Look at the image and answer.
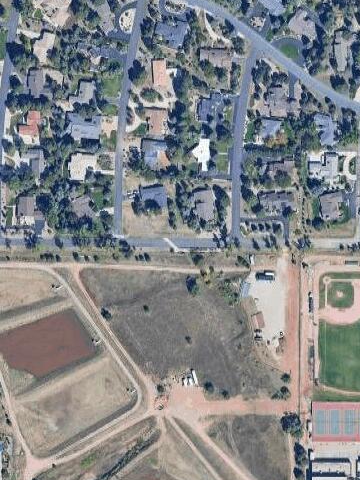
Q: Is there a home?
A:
Yes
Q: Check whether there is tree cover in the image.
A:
Yes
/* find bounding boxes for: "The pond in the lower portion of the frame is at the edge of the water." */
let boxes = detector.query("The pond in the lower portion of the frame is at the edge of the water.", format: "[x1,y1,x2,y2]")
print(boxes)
[0,309,93,378]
